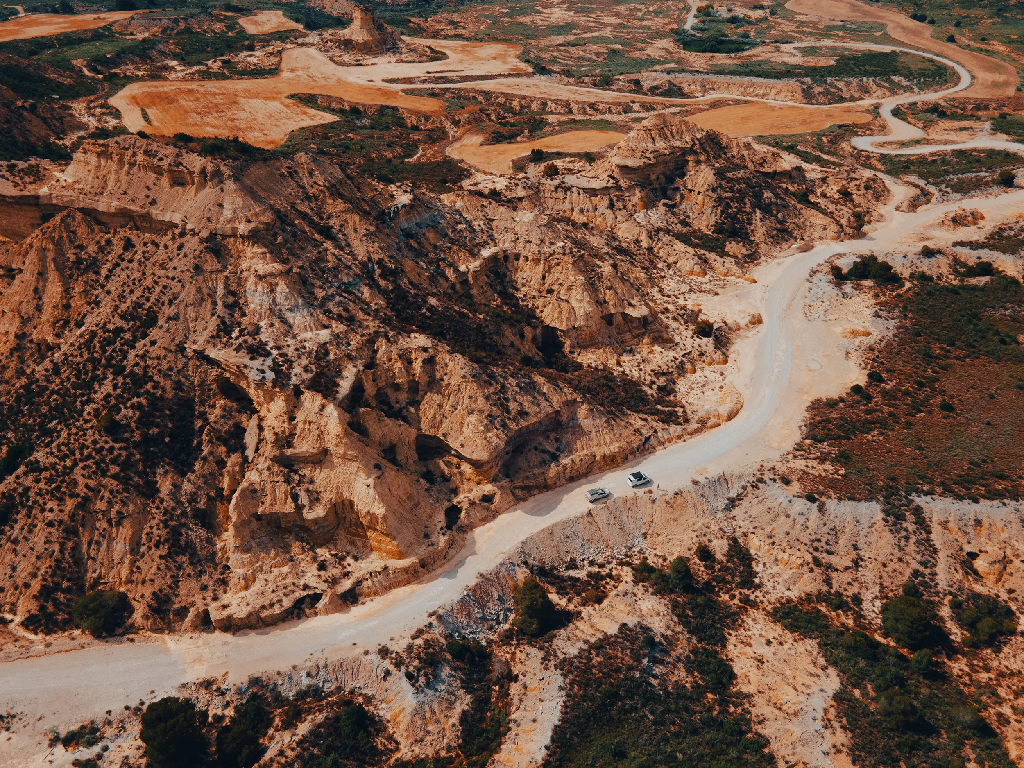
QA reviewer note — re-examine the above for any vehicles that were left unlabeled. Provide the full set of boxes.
[586,487,611,501]
[627,471,651,487]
